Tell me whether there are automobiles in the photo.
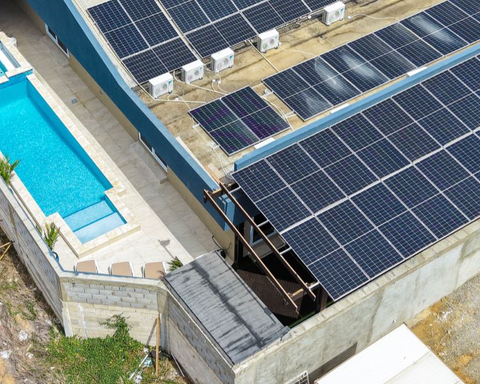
No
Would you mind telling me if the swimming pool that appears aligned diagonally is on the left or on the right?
left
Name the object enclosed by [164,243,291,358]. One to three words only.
shed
